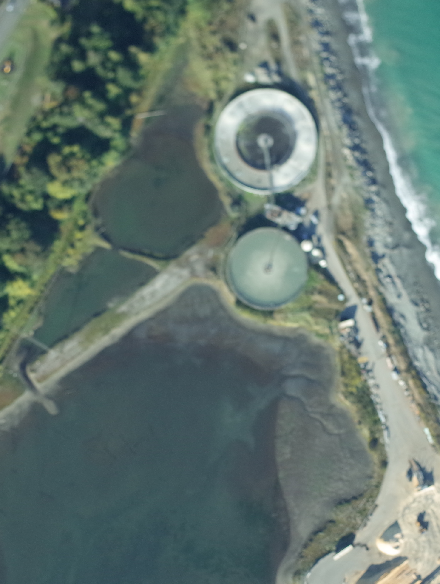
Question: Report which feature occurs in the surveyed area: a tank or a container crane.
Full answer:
There is a tank in the scene.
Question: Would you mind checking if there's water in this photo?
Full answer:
Yes, water can be seen from above here.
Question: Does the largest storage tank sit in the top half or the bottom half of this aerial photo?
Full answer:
The top half of the photo is where the largest storage tank is.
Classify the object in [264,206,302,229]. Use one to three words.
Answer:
building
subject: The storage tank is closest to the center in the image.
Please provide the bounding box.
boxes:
[226,227,307,310]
